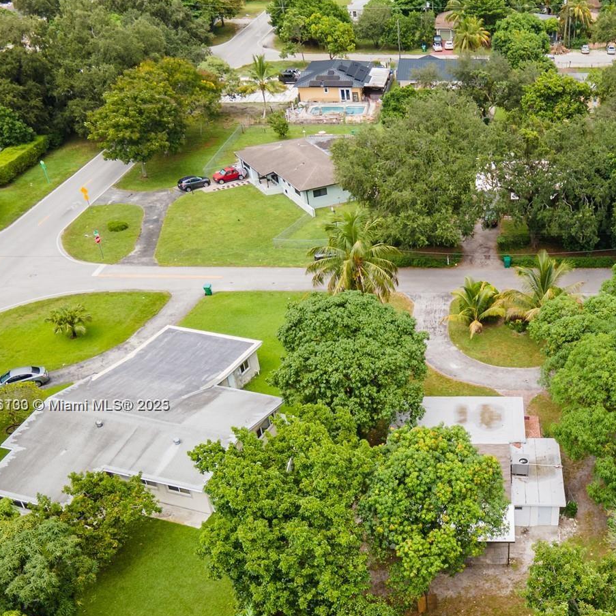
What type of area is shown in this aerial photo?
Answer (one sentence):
It's a residential area.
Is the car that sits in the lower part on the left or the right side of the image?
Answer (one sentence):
You can find the car that sits in the lower part on the left side of the picture.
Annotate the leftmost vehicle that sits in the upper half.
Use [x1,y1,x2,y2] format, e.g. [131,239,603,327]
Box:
[175,172,212,189]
